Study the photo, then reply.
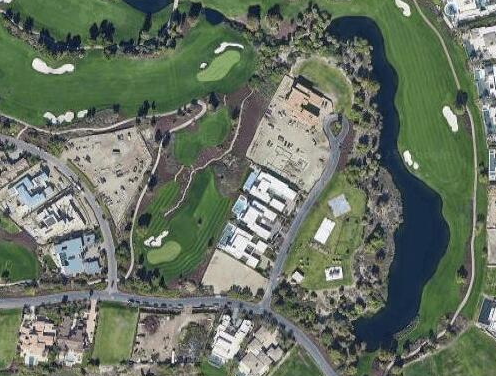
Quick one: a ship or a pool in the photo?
pool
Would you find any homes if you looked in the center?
Yes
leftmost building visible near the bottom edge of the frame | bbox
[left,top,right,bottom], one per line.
[21,317,56,358]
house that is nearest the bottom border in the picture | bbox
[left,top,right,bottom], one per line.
[239,339,285,376]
